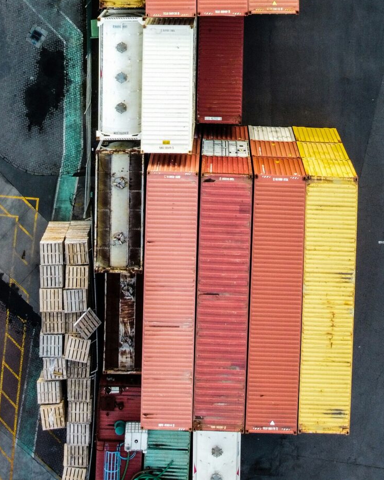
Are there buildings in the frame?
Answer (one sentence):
No, no building is visible in the view.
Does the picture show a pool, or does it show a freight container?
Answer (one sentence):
It is a freight container that can be seen here.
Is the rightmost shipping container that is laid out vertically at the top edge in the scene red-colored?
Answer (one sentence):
Yes, the rightmost shipping container that is laid out vertically at the top edge appears red.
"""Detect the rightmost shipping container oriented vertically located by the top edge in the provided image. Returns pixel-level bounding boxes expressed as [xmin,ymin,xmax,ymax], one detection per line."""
[198,15,242,124]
